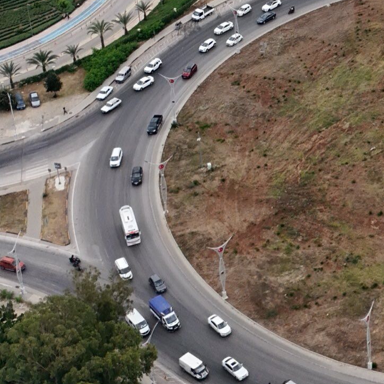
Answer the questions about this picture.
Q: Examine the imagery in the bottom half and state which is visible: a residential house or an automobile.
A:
automobile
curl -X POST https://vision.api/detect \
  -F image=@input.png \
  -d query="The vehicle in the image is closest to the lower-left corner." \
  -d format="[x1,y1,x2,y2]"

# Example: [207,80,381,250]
[0,256,28,273]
